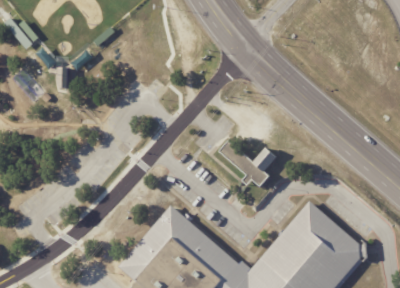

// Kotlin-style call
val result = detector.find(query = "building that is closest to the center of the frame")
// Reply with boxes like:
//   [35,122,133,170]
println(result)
[219,141,276,186]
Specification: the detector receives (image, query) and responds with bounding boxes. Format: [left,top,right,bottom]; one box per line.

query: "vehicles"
[200,171,209,181]
[180,154,190,163]
[204,175,214,184]
[208,210,216,220]
[188,162,196,170]
[176,180,187,190]
[364,135,373,143]
[217,218,226,226]
[220,190,228,198]
[195,168,204,178]
[192,197,201,206]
